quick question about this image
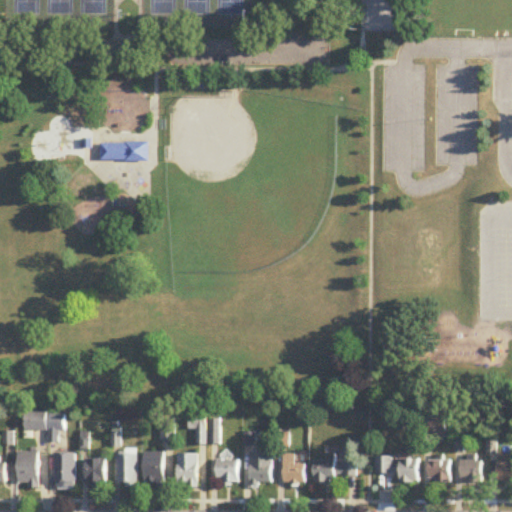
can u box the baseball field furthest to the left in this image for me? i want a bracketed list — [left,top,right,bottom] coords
[164,88,338,292]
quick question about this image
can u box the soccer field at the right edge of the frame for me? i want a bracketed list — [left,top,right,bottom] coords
[434,0,512,36]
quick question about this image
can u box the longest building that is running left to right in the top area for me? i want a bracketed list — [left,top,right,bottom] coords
[101,142,148,161]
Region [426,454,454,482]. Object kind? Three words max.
house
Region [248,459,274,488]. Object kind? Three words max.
house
